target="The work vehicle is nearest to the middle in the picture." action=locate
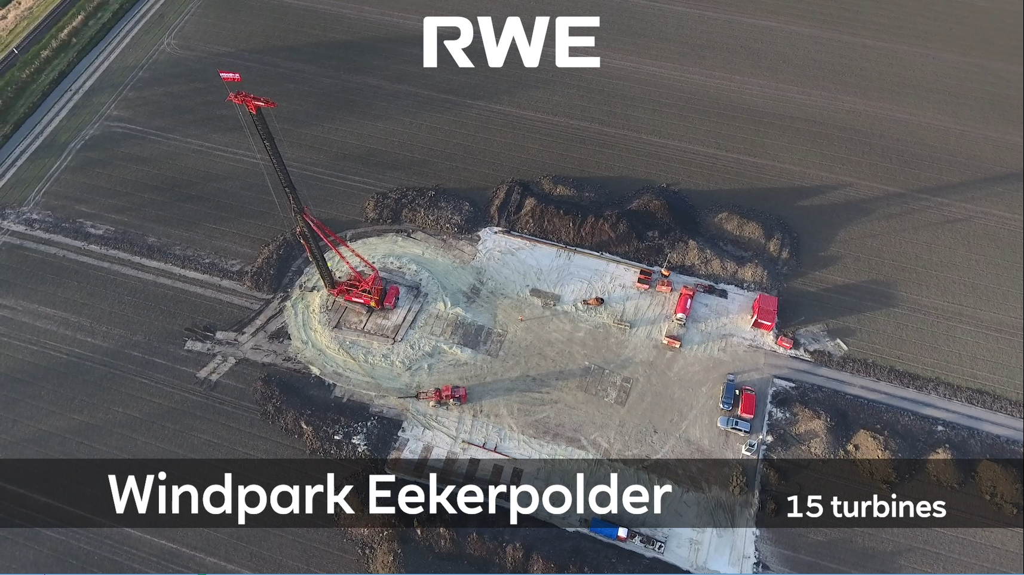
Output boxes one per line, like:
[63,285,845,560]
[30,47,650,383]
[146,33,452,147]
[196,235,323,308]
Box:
[397,387,469,409]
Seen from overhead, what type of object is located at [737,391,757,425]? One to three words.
vehicle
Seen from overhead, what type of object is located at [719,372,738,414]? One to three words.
car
